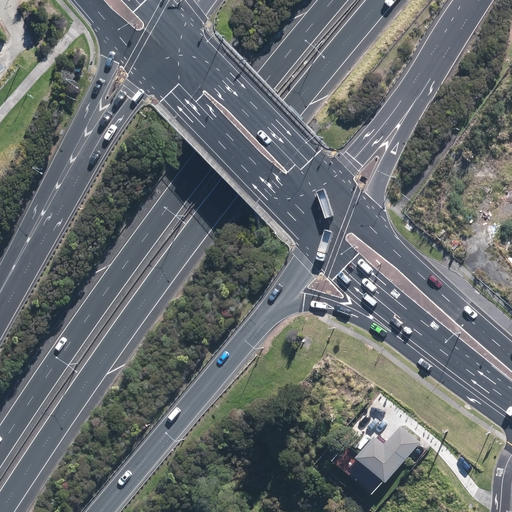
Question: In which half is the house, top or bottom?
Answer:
bottom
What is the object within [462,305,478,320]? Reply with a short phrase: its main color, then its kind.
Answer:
white car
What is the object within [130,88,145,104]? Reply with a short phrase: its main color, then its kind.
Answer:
white vehicle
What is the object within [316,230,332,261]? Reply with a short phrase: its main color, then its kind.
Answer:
white vehicle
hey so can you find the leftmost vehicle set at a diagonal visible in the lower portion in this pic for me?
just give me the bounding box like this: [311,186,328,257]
[54,336,68,352]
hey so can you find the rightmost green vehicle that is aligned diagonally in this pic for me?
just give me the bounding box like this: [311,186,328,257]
[370,322,387,336]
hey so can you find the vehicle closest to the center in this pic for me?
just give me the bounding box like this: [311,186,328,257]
[270,284,282,300]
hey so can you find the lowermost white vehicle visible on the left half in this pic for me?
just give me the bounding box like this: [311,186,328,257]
[118,471,131,486]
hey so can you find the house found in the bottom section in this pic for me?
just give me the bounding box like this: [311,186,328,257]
[347,426,421,494]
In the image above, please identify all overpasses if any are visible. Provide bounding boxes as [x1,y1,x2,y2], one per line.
[150,30,325,244]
